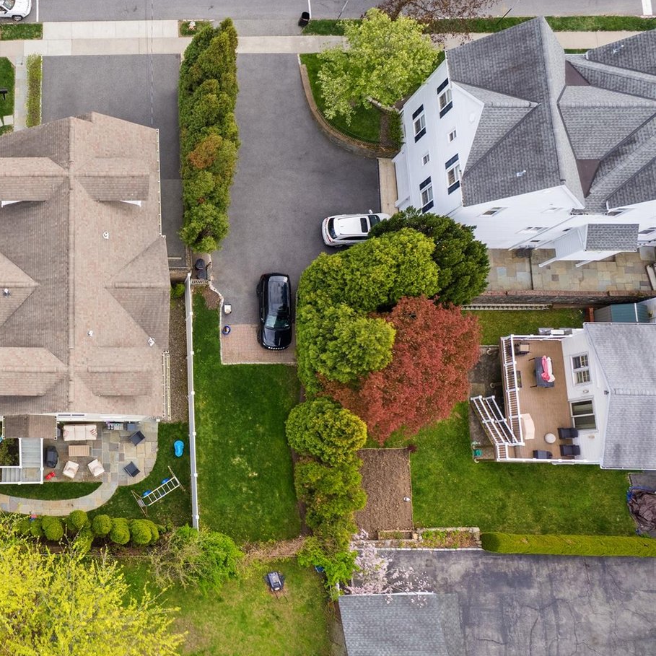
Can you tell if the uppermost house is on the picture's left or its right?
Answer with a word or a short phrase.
right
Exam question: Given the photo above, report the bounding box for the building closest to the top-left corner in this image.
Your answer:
[0,112,171,439]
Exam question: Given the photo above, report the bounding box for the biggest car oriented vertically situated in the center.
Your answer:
[261,274,298,354]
